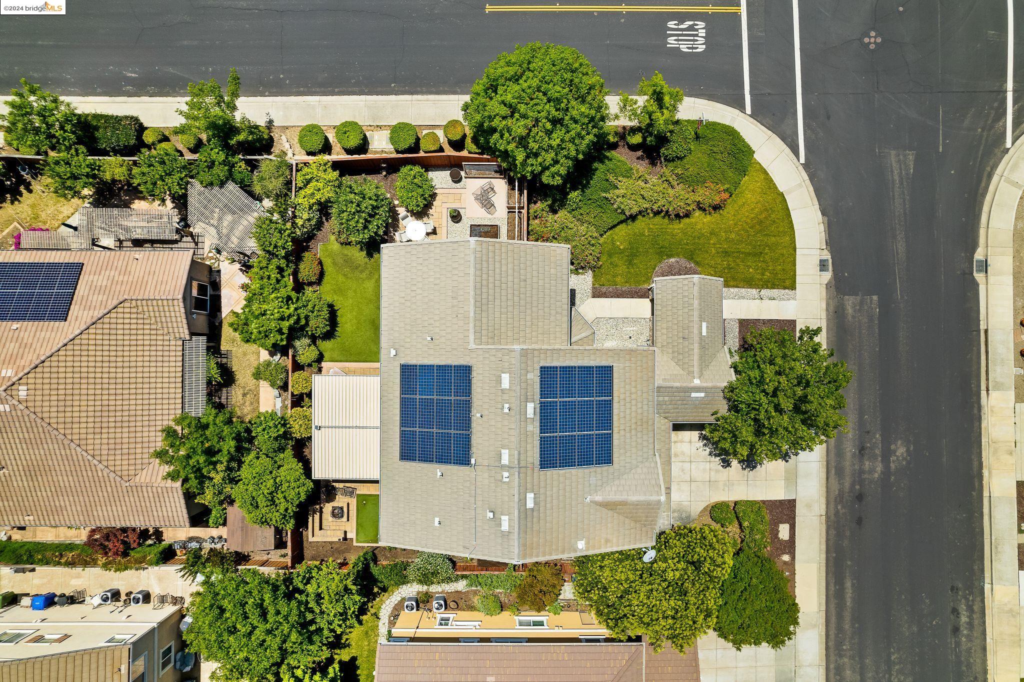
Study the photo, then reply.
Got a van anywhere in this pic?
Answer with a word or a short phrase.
No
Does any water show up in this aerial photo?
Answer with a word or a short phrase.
No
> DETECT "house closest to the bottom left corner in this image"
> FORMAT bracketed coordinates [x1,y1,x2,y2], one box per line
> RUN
[0,606,183,682]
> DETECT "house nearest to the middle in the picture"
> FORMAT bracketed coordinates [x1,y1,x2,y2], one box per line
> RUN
[378,238,732,564]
